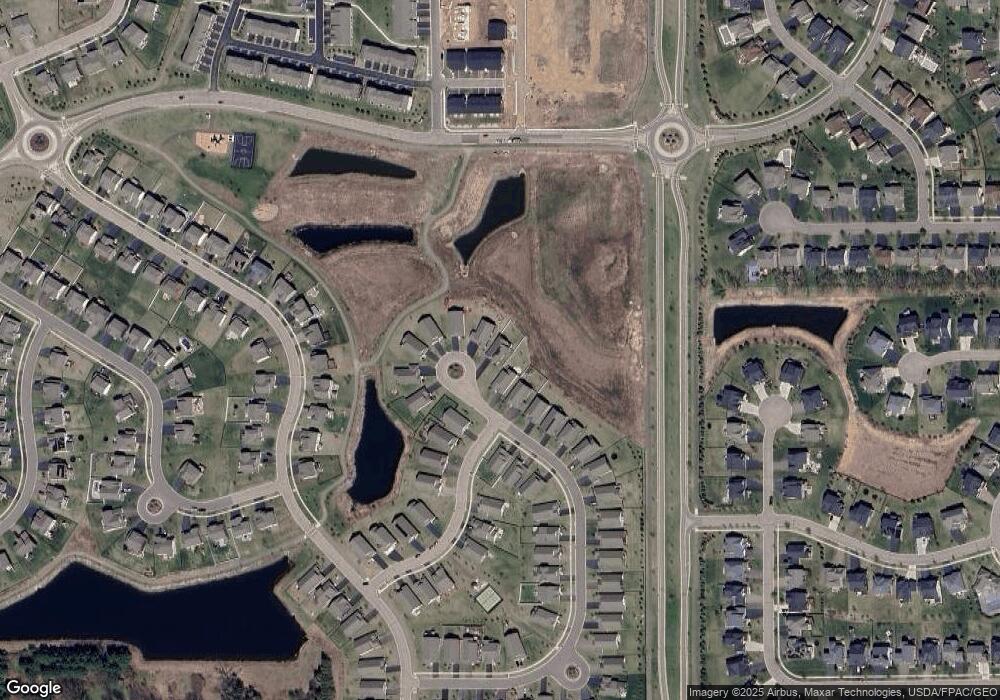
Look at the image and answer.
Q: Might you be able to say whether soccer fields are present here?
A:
No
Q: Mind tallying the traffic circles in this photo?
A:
2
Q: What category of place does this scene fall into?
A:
residential area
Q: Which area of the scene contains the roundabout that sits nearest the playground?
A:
top left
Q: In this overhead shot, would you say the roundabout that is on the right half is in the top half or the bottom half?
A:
top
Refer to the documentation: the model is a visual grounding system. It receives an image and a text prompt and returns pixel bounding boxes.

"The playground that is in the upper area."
[194,131,233,153]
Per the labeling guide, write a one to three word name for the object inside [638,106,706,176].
roundabout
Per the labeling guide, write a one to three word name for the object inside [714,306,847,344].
pond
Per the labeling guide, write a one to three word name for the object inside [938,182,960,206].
house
